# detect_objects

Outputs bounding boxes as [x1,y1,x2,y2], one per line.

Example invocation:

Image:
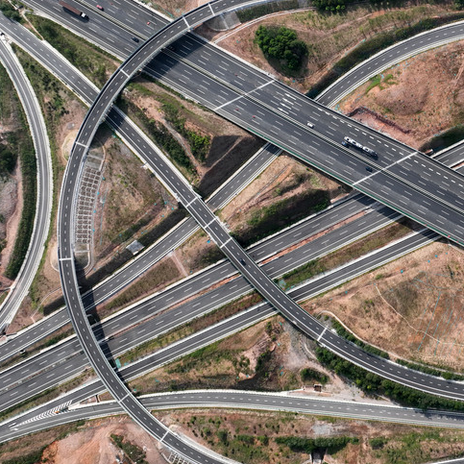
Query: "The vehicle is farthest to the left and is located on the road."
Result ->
[61,2,88,19]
